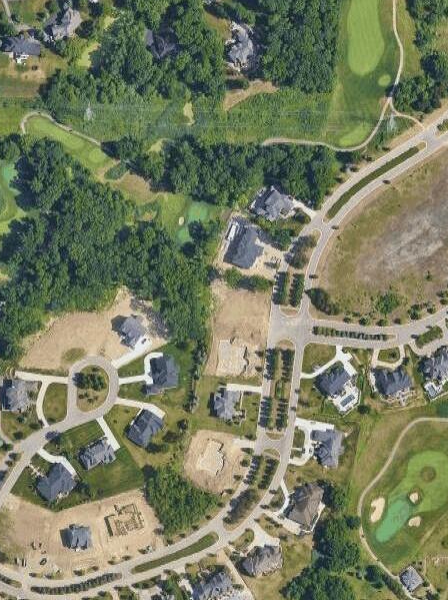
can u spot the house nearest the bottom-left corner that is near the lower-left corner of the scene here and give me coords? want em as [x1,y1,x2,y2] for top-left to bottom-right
[68,525,93,550]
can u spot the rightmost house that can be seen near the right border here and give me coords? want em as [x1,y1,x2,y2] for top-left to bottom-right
[420,345,448,381]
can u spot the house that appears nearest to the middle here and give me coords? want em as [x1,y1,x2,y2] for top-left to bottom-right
[227,224,264,270]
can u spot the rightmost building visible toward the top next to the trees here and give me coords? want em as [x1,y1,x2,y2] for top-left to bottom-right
[257,185,297,221]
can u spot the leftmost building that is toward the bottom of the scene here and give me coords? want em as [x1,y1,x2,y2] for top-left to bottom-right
[0,380,30,411]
